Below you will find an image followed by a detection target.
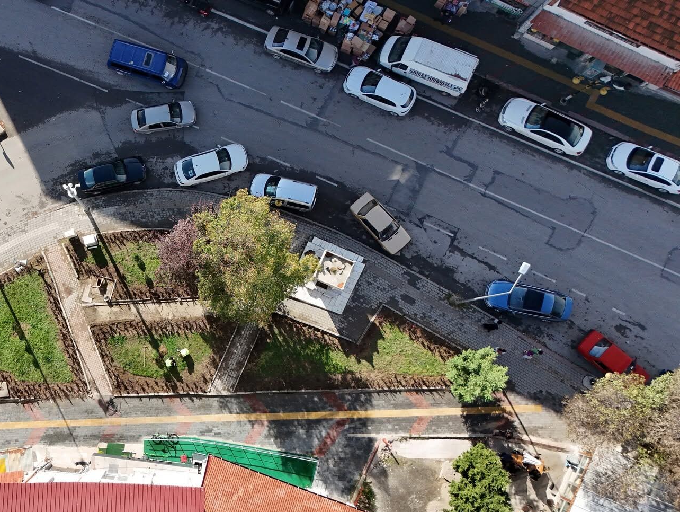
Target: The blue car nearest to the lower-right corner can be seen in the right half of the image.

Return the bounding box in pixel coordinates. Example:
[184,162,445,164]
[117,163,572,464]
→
[483,281,575,325]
